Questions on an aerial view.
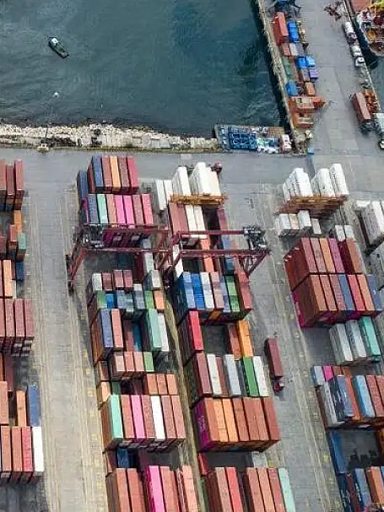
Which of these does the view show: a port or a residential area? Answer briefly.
port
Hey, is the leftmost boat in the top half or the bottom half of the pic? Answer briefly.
top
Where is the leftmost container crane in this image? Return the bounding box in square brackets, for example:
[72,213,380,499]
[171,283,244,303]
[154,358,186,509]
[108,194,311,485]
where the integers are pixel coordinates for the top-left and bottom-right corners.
[66,224,181,297]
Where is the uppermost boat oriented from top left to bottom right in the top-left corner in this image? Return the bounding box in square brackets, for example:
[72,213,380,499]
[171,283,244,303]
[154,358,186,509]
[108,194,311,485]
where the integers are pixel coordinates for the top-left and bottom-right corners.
[49,39,71,60]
